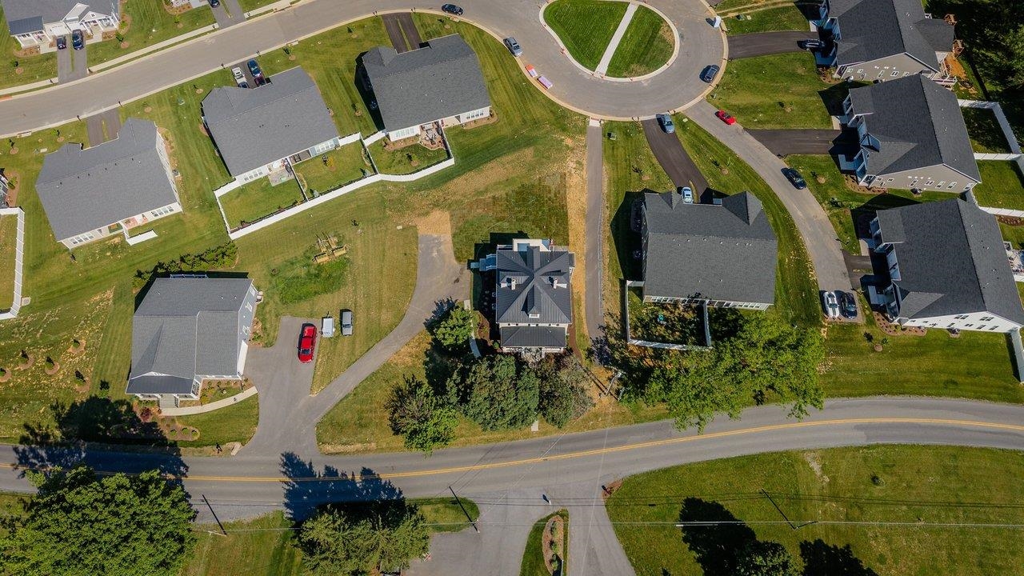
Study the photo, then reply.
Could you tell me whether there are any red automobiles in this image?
Yes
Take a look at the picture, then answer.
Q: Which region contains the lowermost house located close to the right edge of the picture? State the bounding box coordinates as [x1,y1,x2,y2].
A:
[856,199,1024,333]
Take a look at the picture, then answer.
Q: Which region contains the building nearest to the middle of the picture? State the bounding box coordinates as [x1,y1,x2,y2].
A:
[459,238,573,364]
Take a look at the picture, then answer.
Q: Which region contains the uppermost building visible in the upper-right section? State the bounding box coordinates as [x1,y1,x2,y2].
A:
[808,0,965,82]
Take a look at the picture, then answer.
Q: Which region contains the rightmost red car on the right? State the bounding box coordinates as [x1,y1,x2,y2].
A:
[713,108,736,128]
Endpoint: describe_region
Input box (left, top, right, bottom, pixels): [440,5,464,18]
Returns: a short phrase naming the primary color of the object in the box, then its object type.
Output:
black vehicle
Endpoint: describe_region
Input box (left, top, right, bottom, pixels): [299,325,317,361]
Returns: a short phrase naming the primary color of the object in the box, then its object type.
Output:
red vehicle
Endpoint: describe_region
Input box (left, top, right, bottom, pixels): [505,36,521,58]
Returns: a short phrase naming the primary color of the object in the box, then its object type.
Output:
gray car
